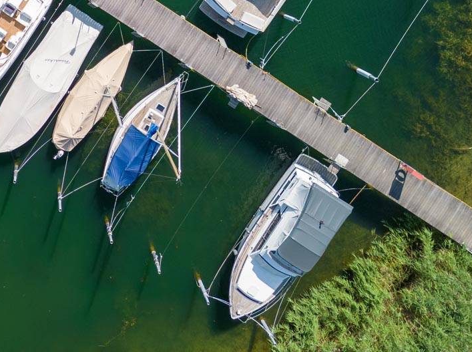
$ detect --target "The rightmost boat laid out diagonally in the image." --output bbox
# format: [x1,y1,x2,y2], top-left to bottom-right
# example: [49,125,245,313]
[232,155,352,329]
